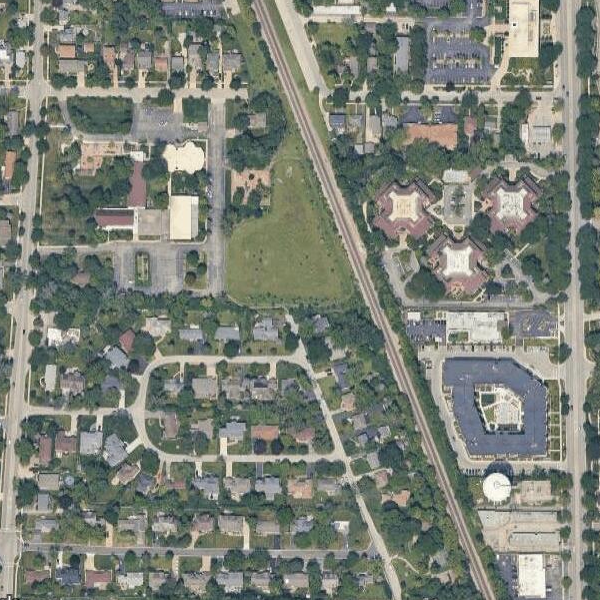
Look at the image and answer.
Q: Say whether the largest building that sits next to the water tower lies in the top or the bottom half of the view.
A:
bottom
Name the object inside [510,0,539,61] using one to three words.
building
